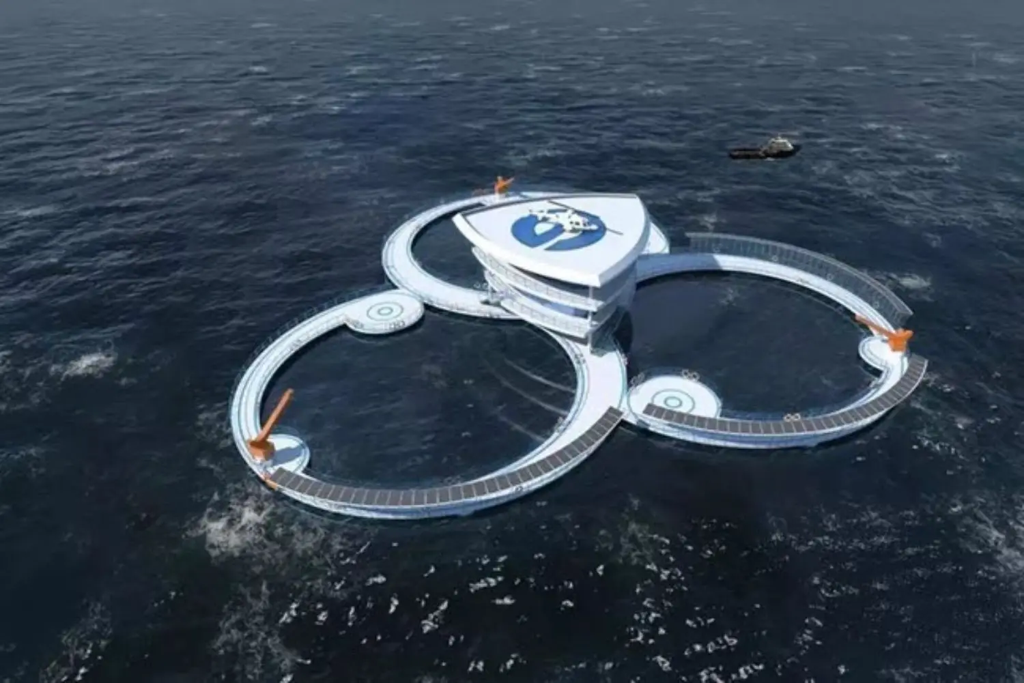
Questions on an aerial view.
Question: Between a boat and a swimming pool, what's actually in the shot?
boat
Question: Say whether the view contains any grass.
No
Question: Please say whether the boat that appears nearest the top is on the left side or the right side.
right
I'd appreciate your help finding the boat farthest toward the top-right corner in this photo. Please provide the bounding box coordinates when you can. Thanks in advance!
[727,130,806,160]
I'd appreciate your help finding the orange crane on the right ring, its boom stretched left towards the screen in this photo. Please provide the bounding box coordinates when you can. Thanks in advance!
[851,313,919,355]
